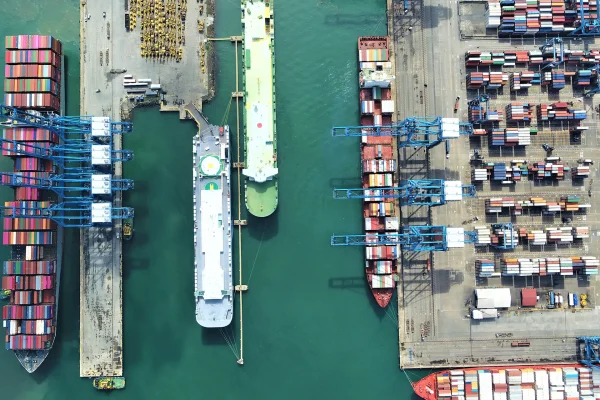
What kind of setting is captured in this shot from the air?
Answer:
port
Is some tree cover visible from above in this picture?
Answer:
No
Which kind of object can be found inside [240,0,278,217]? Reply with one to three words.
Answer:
ship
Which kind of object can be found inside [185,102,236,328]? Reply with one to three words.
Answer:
ship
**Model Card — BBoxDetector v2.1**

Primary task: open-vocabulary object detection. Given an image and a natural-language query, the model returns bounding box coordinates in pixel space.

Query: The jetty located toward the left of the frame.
[79,0,208,381]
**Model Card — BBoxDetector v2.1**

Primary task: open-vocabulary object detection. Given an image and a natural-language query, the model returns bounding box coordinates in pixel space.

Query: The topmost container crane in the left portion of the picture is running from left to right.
[0,107,129,147]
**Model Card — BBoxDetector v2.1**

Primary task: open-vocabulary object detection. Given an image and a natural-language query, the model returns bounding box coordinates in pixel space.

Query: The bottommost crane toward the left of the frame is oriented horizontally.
[0,197,129,226]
